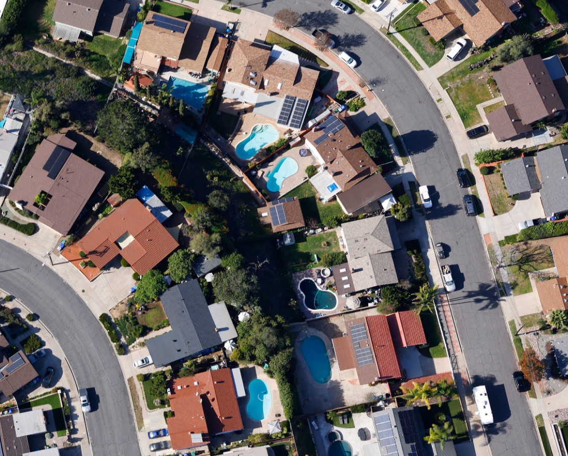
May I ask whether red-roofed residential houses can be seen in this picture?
Yes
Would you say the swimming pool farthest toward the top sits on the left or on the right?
left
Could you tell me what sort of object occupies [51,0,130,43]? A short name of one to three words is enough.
house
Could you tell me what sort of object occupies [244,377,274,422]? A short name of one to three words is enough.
swimming pool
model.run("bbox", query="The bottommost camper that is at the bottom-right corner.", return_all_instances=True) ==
[471,386,494,426]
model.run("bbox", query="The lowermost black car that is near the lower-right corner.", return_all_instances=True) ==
[512,372,526,393]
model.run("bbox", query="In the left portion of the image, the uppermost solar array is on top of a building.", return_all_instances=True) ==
[152,15,187,33]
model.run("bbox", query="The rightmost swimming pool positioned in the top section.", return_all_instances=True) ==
[265,155,300,198]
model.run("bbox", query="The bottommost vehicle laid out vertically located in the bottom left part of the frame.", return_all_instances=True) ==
[79,389,92,413]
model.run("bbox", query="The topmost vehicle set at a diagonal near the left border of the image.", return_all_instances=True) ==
[28,349,47,364]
